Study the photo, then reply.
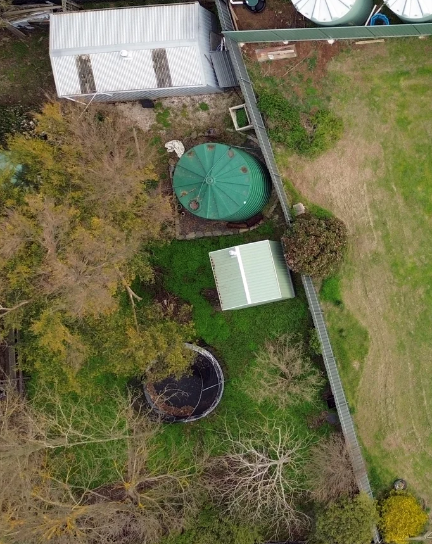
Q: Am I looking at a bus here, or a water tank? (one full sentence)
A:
I can see a water tank in this picture.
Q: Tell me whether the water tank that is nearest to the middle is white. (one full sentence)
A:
No, the color of the water tank that is nearest to the middle is green.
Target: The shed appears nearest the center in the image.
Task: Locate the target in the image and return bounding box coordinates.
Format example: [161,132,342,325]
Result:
[209,239,292,311]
